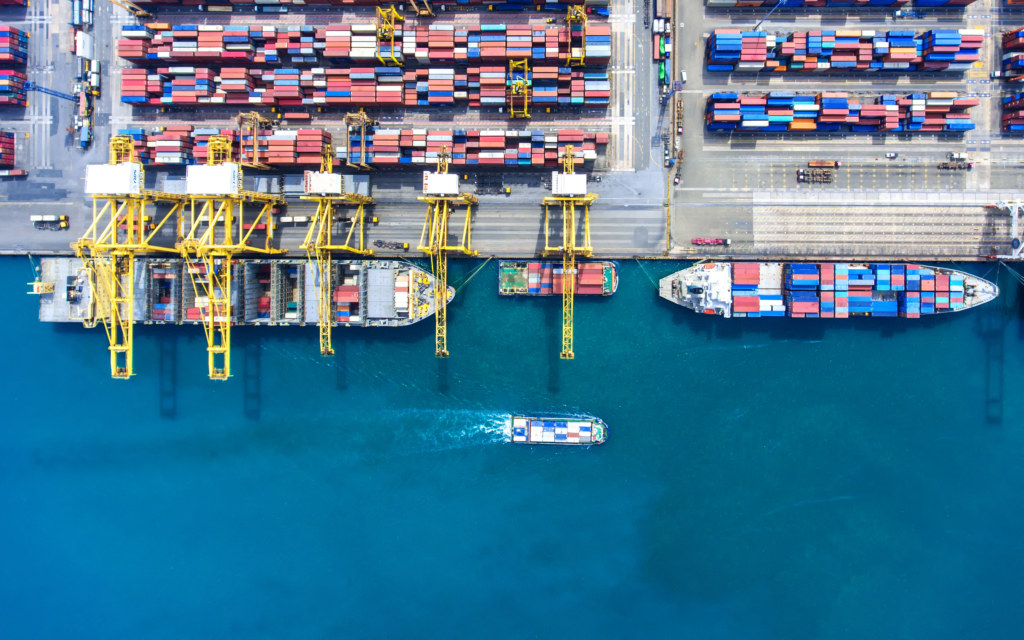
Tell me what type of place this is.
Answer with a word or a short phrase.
port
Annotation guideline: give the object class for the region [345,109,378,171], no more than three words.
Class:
container crane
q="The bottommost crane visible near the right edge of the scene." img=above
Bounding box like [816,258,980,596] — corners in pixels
[980,197,1024,251]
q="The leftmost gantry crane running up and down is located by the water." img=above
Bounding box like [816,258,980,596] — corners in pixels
[74,134,196,380]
